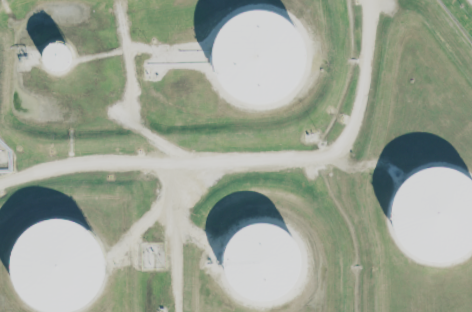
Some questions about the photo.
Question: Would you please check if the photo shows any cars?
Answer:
No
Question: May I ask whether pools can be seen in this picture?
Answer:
No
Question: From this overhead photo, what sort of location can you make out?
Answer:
industrial area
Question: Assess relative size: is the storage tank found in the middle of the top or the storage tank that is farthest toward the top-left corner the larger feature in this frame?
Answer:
the storage tank found in the middle of the top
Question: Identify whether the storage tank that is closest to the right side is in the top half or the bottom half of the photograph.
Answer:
bottom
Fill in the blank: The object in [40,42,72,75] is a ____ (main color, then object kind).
white storage tank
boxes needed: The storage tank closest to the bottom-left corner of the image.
[7,218,106,312]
